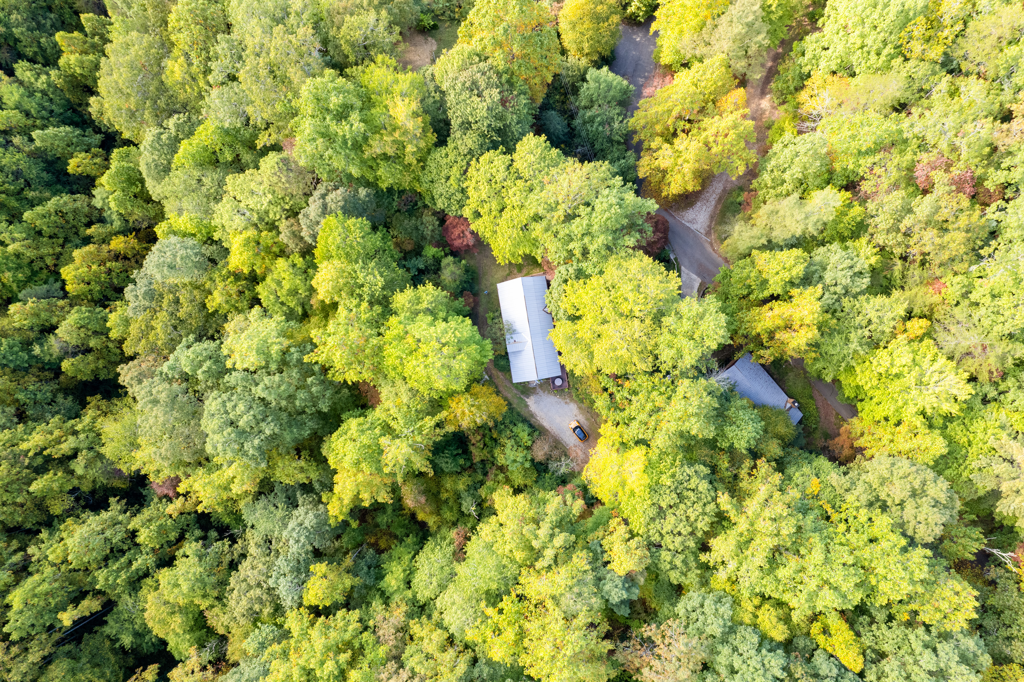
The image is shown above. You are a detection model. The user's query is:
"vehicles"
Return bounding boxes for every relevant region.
[569,420,588,442]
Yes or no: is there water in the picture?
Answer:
No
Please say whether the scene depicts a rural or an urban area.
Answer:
rural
